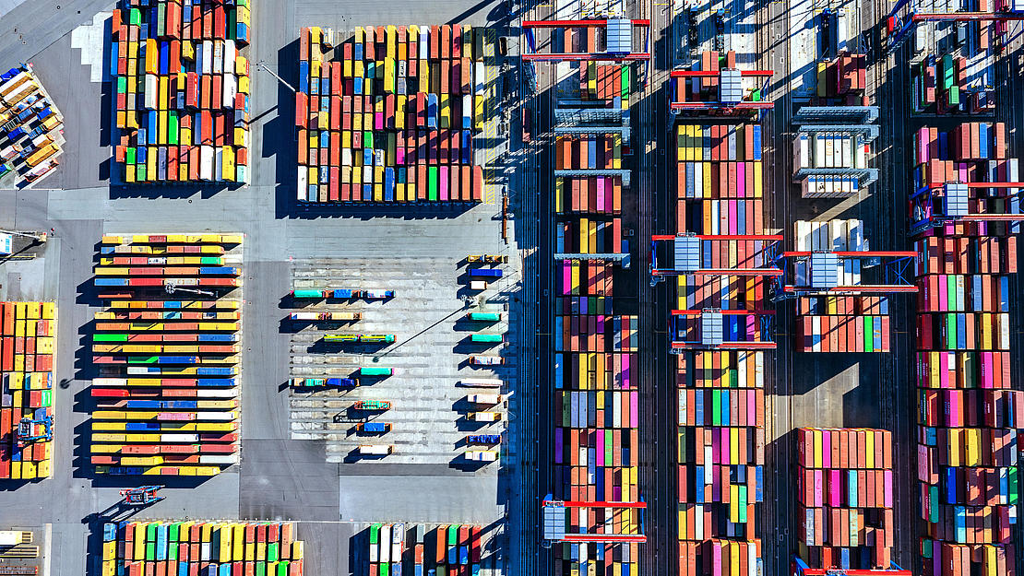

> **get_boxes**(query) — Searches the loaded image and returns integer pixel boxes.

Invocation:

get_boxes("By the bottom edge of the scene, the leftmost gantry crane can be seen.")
[542,484,648,550]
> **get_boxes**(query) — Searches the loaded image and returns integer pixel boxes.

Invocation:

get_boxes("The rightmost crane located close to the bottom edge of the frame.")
[790,546,912,576]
